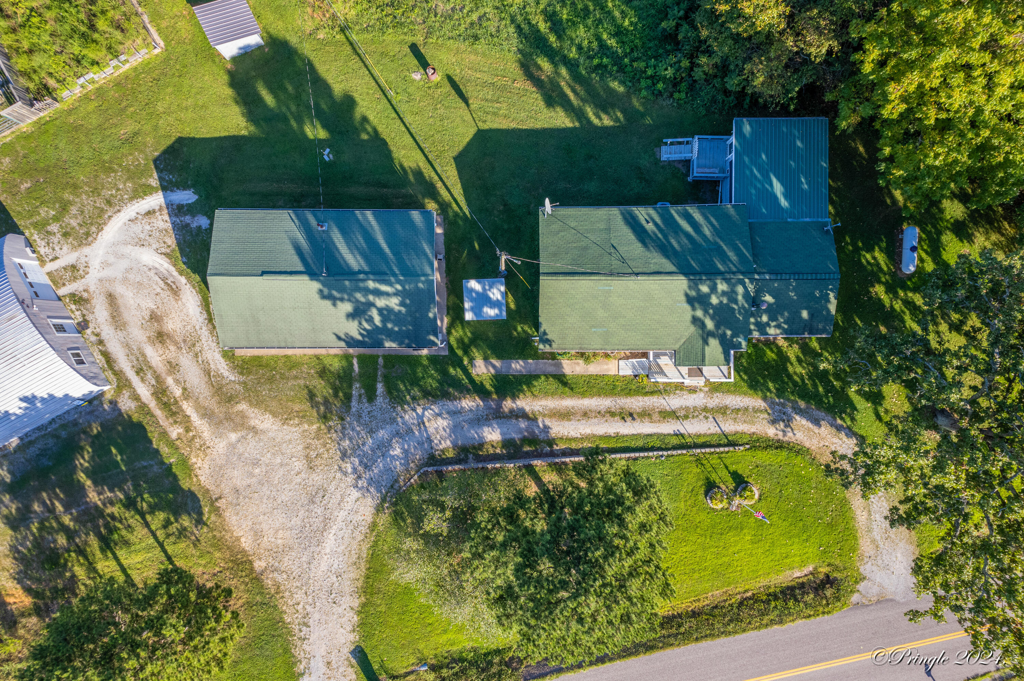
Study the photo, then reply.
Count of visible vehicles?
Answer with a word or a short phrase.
0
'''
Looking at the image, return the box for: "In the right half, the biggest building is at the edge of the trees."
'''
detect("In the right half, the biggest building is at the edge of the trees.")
[532,117,841,367]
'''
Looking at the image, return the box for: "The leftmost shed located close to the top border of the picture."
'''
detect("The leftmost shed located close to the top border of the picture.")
[189,0,265,61]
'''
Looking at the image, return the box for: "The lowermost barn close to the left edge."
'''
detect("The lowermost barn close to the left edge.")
[0,233,113,449]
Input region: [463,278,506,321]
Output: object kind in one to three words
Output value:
shed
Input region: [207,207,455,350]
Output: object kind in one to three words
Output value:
building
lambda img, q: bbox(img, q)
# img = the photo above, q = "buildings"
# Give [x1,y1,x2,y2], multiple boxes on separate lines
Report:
[189,0,265,61]
[532,117,841,367]
[0,233,113,449]
[207,207,455,350]
[463,278,506,321]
